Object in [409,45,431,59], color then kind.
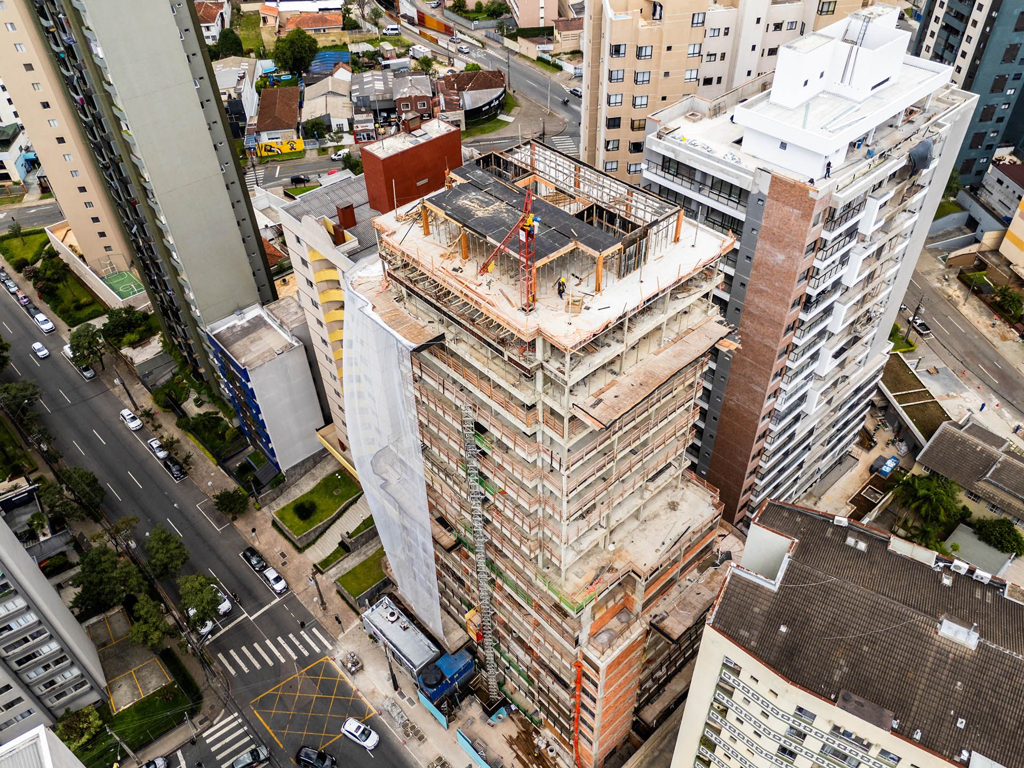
white vehicle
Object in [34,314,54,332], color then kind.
white car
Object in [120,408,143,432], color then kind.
white car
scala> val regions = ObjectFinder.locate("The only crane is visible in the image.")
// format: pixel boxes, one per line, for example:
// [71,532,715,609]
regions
[474,189,548,319]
